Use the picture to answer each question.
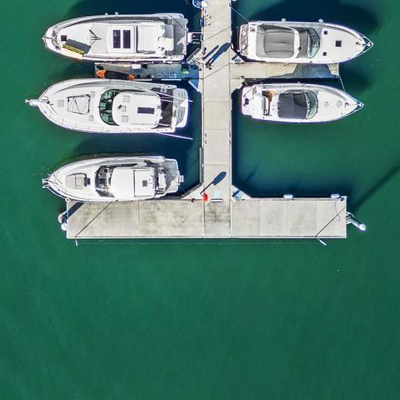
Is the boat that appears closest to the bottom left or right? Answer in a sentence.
The boat that appears closest to the bottom is on the left side of the image.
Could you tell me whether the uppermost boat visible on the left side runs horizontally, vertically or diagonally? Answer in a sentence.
From this overhead view, the uppermost boat visible on the left side appears to run horizontally.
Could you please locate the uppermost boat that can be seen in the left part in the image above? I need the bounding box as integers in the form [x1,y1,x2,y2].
[38,10,202,63]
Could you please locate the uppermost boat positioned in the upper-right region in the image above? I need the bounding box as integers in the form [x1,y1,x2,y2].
[236,20,376,63]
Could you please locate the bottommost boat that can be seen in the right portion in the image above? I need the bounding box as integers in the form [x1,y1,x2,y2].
[241,80,367,122]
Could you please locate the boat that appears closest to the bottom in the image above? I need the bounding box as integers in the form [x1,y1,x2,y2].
[41,154,183,203]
